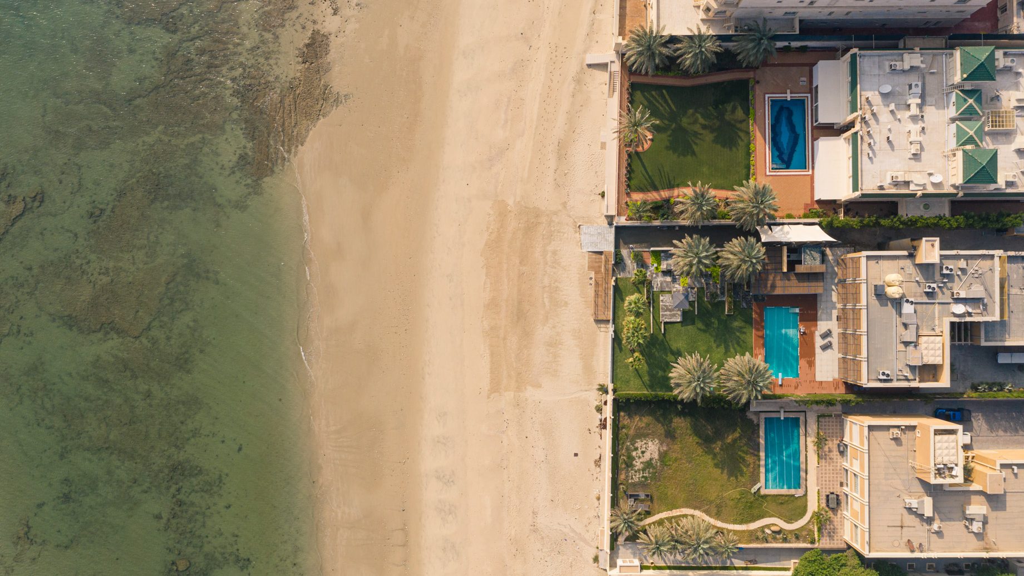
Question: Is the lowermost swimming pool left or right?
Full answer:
The lowermost swimming pool is on the right side of the image.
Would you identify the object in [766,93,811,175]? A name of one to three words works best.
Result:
swimming pool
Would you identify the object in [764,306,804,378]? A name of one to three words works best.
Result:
swimming pool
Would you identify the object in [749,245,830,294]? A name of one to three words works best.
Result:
building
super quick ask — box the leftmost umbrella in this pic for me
[673,293,688,309]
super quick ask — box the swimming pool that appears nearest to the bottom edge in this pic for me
[760,412,806,495]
